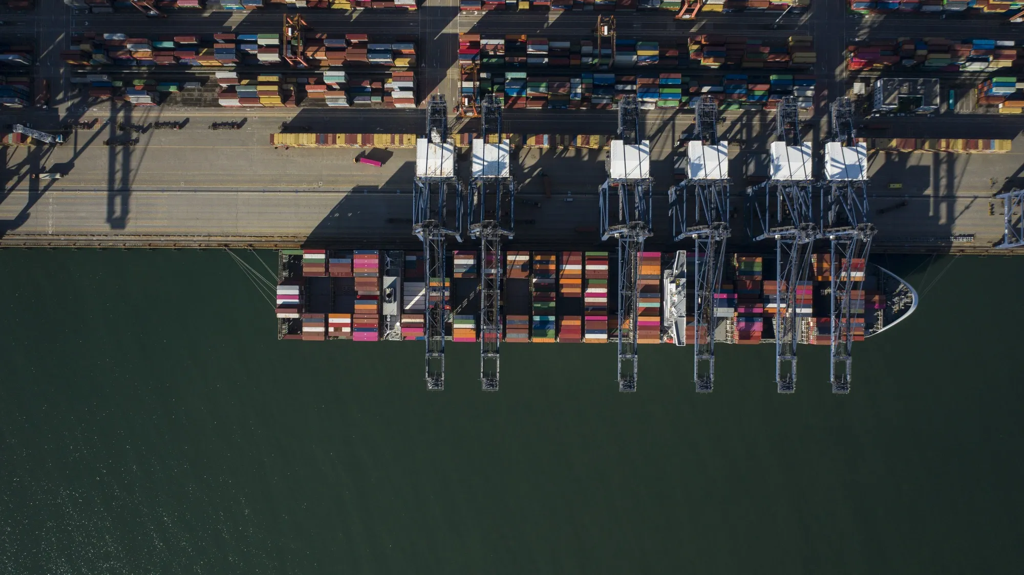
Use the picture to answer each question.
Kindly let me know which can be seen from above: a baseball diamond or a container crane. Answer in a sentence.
Visible in the photo is a container crane.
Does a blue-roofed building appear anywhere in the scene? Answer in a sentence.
No, the picture doesn't show any blue-roofed building.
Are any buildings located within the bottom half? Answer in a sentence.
No, I see no building within the bottom half.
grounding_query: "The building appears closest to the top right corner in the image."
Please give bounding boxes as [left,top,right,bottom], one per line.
[874,78,940,115]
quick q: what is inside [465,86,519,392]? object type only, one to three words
container crane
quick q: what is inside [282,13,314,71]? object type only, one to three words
container crane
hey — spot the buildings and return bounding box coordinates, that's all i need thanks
[874,78,940,115]
[851,83,865,95]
